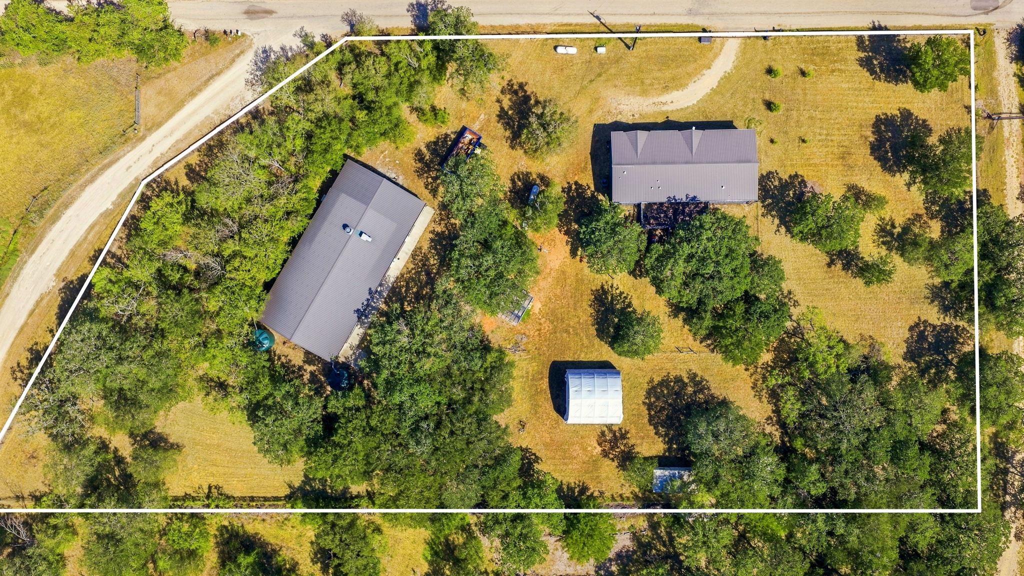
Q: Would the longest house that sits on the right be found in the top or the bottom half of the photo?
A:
top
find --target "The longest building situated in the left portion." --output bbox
[257,160,426,363]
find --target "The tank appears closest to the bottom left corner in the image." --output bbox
[253,328,280,352]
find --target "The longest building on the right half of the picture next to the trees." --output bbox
[611,126,760,204]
